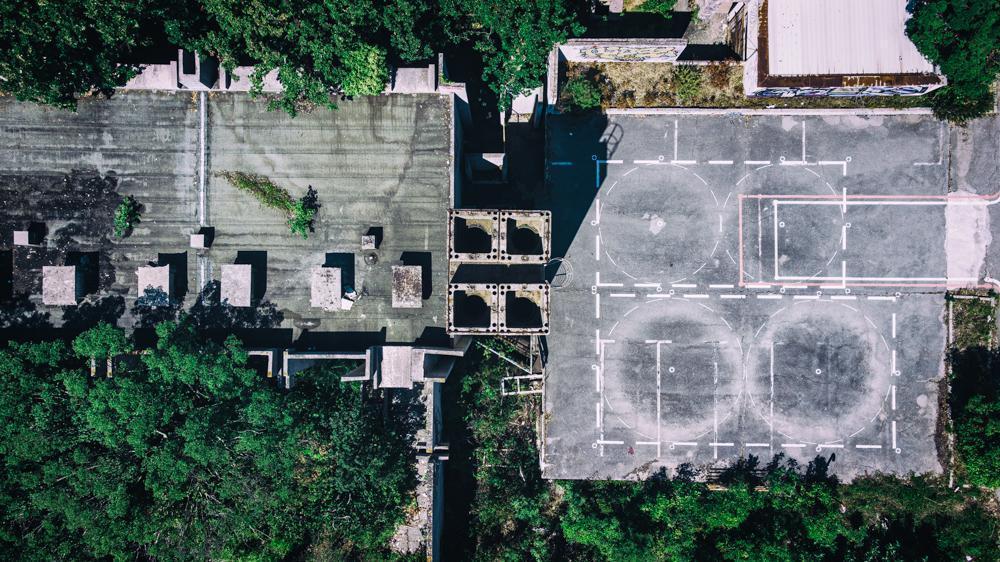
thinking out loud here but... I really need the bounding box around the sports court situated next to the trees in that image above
[535,110,1000,481]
